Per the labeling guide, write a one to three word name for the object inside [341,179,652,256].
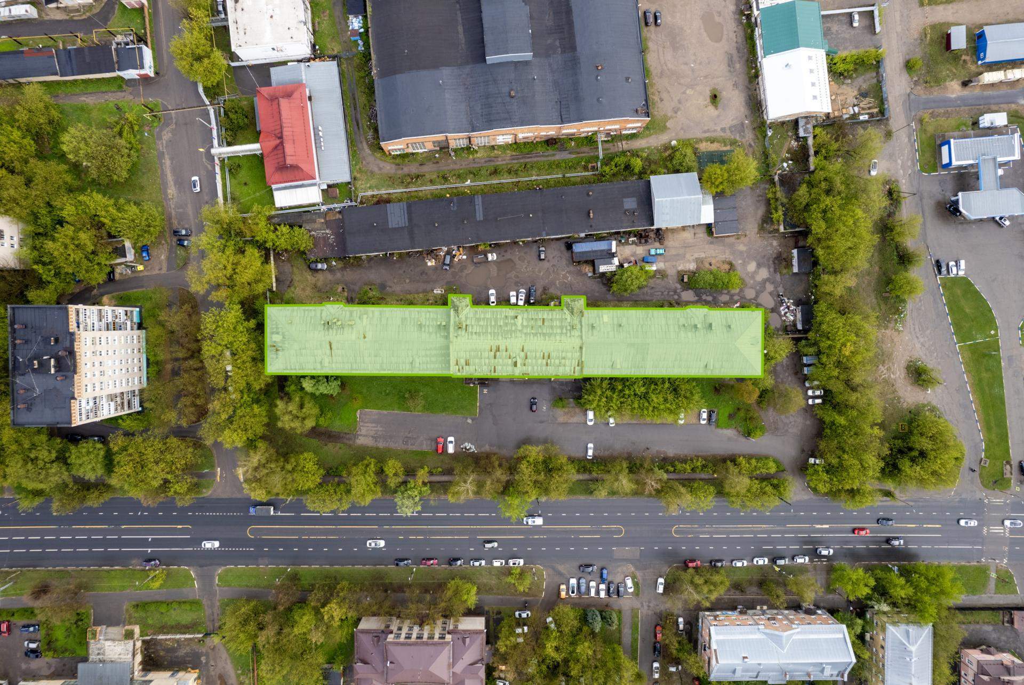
shed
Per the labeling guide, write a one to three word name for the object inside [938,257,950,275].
vehicle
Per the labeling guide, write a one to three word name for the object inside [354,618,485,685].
building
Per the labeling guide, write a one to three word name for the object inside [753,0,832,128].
building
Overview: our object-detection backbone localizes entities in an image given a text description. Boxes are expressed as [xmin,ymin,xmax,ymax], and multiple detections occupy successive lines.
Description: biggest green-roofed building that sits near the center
[263,293,766,380]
